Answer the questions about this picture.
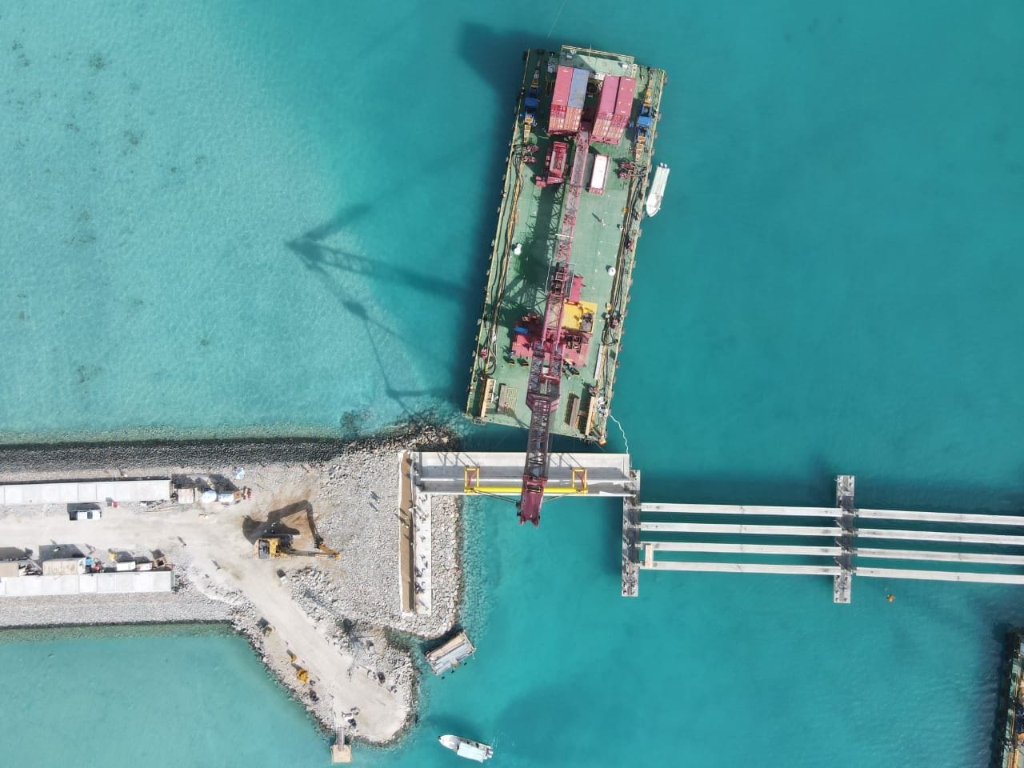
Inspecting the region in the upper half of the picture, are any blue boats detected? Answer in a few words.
No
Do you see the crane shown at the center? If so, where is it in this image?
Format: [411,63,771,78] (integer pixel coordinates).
[511,120,599,528]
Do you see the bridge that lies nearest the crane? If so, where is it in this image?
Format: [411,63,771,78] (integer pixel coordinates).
[419,453,634,495]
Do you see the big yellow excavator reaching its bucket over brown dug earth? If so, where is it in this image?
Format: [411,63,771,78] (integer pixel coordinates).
[250,536,340,560]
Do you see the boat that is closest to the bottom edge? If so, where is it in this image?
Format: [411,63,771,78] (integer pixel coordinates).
[439,735,498,767]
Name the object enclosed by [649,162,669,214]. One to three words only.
boat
